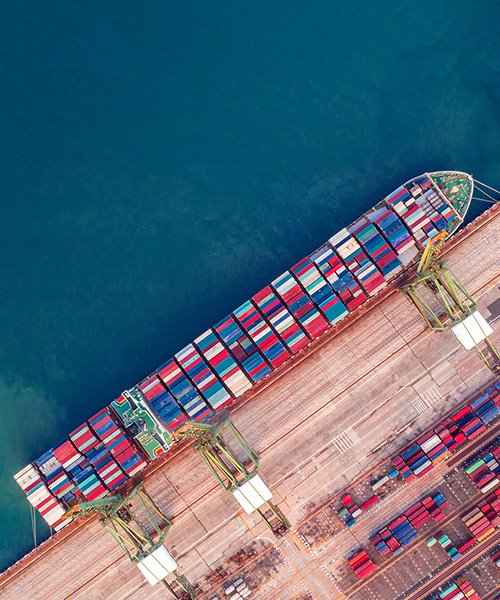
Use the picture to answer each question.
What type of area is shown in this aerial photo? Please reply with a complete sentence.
What you see here is a port.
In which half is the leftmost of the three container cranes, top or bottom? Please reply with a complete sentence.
It is in the bottom half that the leftmost of the three container cranes appears.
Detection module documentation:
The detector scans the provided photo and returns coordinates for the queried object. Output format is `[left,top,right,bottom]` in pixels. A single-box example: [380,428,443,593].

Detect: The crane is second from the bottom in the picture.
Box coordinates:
[170,412,285,533]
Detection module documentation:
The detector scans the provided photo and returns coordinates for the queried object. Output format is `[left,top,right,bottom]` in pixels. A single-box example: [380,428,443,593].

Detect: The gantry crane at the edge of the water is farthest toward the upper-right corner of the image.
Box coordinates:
[398,230,500,369]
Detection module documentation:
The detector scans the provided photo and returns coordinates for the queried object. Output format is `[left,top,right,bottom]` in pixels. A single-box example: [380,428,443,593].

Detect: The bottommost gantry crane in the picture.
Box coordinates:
[62,478,190,600]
